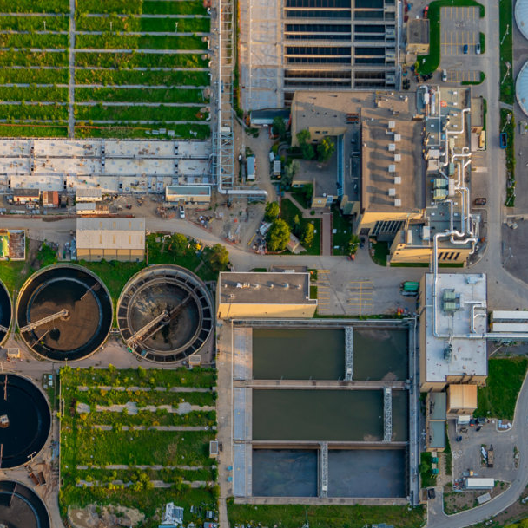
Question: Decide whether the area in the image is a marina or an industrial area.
industrial area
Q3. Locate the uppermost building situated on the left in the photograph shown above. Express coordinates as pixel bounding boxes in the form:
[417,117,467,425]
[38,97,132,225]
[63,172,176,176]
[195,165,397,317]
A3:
[166,186,210,202]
